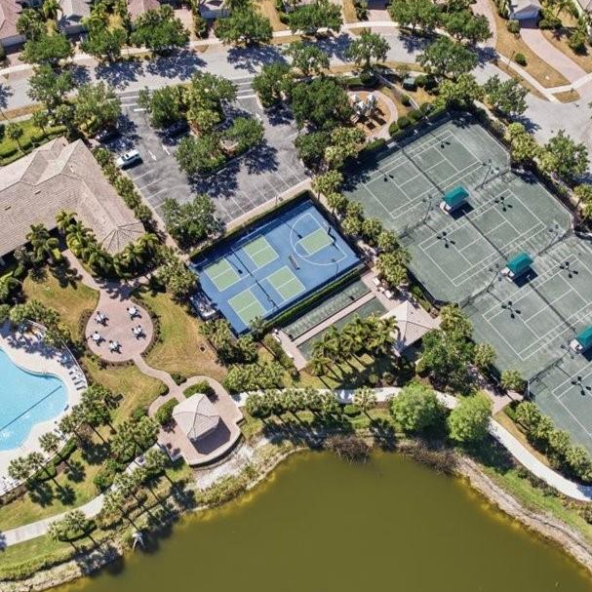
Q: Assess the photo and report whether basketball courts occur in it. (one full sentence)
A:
Yes, the picture does show a basketball court.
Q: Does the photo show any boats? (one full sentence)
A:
No, no boat is visible in the scene.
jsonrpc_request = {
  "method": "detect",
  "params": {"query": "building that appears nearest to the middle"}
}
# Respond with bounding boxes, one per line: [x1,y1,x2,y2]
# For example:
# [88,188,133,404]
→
[378,299,441,354]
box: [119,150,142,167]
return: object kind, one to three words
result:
car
